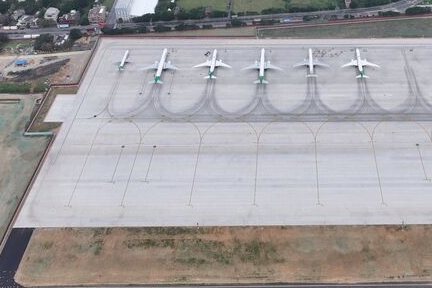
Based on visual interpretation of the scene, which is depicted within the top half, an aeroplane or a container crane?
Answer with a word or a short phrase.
aeroplane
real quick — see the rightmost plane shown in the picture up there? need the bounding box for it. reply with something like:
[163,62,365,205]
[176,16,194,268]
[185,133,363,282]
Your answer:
[341,49,380,78]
